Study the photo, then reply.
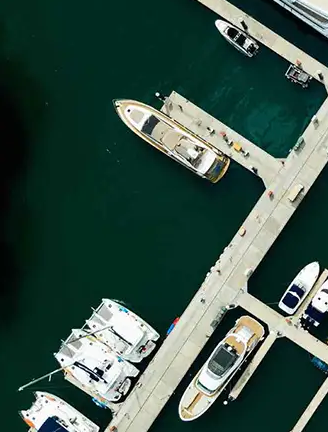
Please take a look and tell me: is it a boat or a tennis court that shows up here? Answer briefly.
boat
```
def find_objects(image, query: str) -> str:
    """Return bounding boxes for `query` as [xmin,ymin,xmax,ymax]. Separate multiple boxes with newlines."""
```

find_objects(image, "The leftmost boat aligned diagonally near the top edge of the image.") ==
[216,21,259,58]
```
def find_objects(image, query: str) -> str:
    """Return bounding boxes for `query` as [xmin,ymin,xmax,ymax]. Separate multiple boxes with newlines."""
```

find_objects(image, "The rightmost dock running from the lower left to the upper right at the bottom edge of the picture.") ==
[289,374,328,432]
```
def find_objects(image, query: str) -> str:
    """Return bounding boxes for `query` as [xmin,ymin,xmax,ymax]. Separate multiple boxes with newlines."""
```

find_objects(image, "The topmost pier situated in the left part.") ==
[64,371,121,412]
